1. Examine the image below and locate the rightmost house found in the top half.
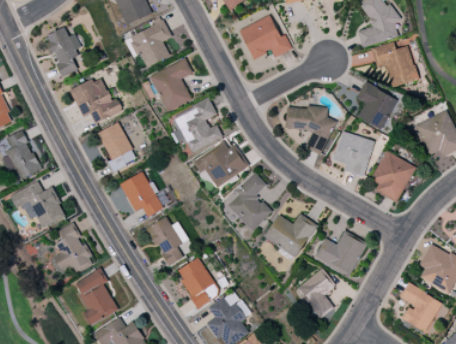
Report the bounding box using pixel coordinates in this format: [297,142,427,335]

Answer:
[416,110,456,160]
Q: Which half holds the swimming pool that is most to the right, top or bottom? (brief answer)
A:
top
